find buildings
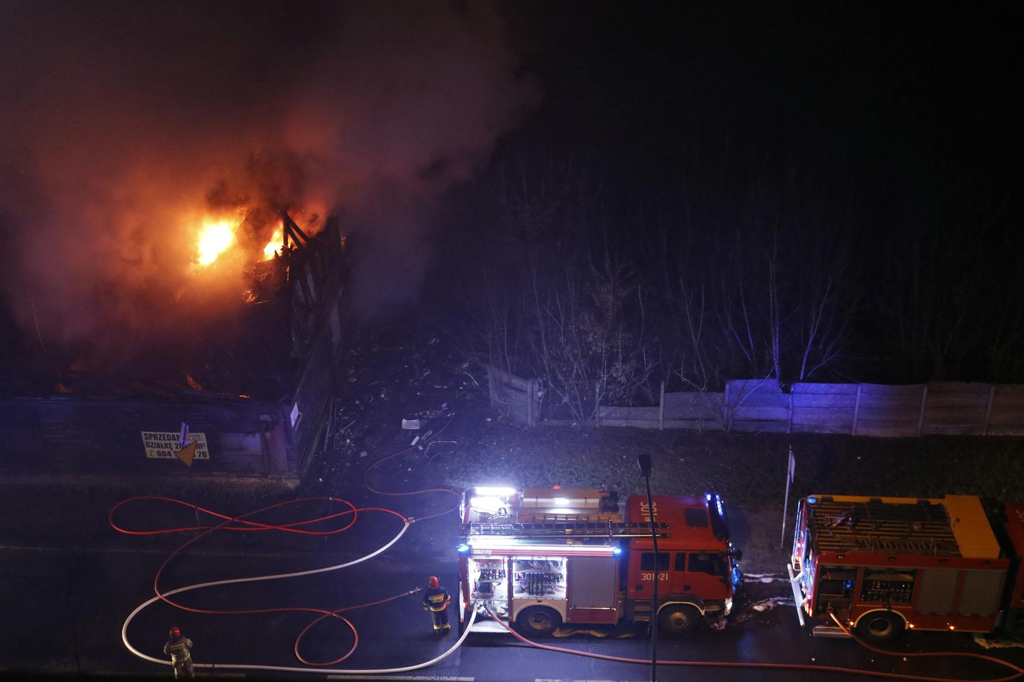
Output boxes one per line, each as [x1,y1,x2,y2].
[0,196,350,480]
